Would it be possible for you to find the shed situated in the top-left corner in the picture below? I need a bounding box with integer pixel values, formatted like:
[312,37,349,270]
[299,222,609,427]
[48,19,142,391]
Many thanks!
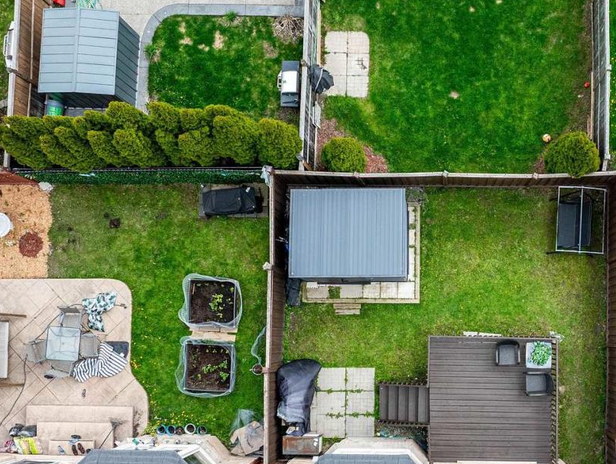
[39,4,140,109]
